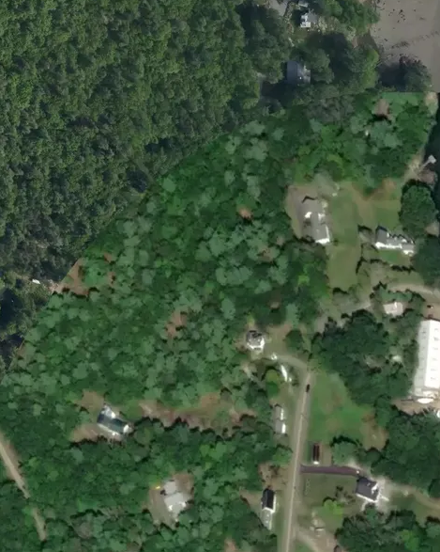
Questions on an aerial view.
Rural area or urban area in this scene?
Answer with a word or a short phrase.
rural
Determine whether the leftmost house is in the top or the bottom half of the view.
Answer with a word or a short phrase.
bottom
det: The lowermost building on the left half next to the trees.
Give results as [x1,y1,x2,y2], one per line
[163,480,187,513]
